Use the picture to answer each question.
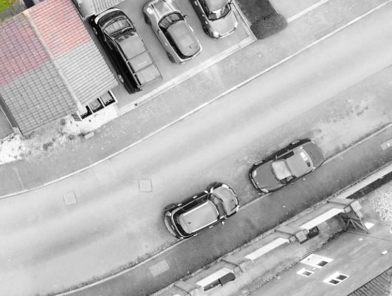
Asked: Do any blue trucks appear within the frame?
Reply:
No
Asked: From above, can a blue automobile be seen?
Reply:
No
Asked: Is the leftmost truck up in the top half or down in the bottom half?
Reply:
top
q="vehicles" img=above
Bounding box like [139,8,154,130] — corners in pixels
[163,185,243,244]
[188,0,238,40]
[91,7,168,97]
[143,0,201,66]
[249,140,335,198]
